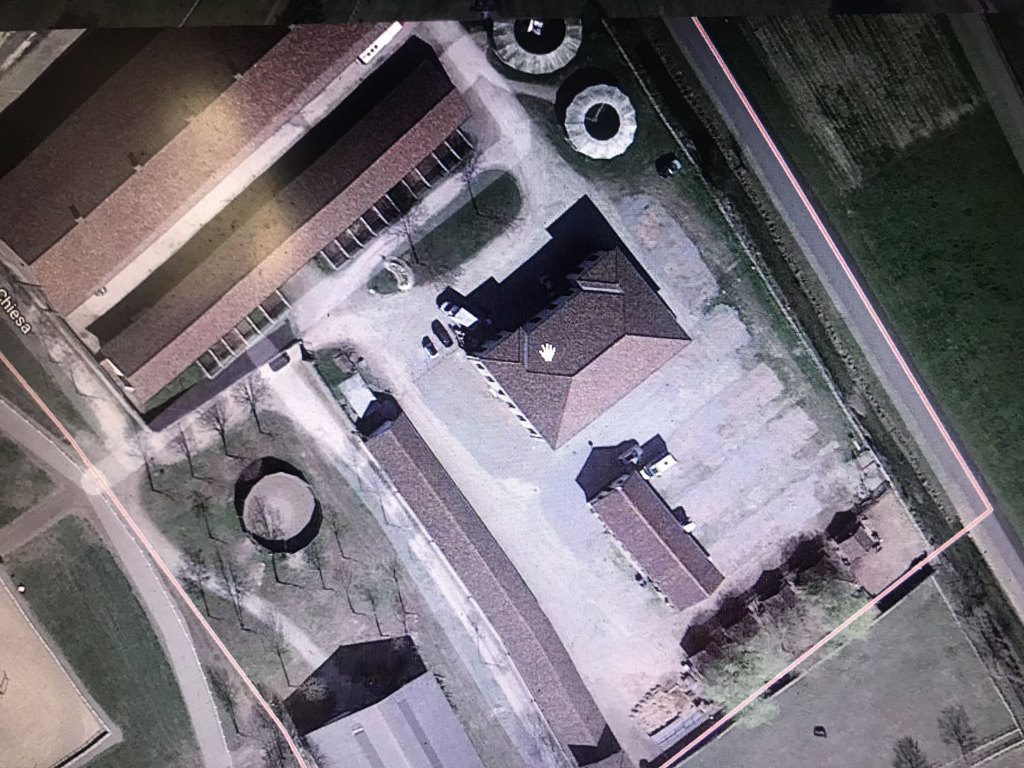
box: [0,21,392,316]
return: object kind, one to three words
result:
barn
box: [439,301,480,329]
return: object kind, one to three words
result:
truck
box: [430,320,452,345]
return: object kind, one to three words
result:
car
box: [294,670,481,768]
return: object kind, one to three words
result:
building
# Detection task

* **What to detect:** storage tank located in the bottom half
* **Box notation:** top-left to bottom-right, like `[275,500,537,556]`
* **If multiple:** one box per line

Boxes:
[235,470,324,553]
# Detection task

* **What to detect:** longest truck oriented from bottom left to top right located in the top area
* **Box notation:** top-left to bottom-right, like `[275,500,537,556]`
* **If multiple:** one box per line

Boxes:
[359,16,407,63]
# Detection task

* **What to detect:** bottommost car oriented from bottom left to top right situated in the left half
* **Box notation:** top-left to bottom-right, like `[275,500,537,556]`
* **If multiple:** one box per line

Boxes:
[268,352,290,369]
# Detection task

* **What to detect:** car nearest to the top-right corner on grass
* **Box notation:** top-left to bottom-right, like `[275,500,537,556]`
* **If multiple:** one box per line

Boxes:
[661,160,679,176]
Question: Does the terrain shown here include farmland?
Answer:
Yes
